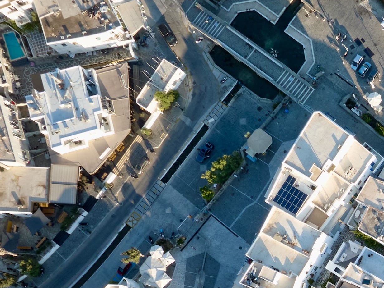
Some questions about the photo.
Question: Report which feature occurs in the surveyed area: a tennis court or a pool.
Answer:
pool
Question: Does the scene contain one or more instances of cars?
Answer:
Yes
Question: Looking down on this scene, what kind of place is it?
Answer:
residential area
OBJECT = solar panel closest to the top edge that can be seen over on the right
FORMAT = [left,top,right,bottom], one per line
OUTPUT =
[271,174,308,213]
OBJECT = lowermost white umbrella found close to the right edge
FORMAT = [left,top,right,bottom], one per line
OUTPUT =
[368,92,382,106]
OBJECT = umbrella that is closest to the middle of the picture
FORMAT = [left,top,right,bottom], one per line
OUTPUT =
[247,128,272,153]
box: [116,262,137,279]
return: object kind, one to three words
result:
car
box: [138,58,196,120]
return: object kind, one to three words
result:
house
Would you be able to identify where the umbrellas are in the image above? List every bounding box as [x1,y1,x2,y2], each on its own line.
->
[151,271,175,288]
[149,245,165,257]
[247,128,272,153]
[139,273,153,286]
[368,92,382,106]
[161,248,179,269]
[140,254,166,280]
